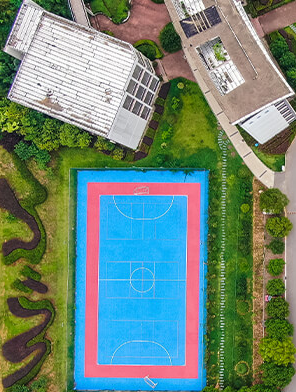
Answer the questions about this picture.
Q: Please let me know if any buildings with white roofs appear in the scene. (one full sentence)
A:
Yes, the frame does contain a building with a white roof.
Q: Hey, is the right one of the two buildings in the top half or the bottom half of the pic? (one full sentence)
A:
The right one of the two buildings is in the top half of the image.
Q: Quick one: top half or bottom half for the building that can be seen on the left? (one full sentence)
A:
It is in the top half that the building that can be seen on the left appears.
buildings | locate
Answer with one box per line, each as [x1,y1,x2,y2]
[5,0,159,147]
[170,0,296,144]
